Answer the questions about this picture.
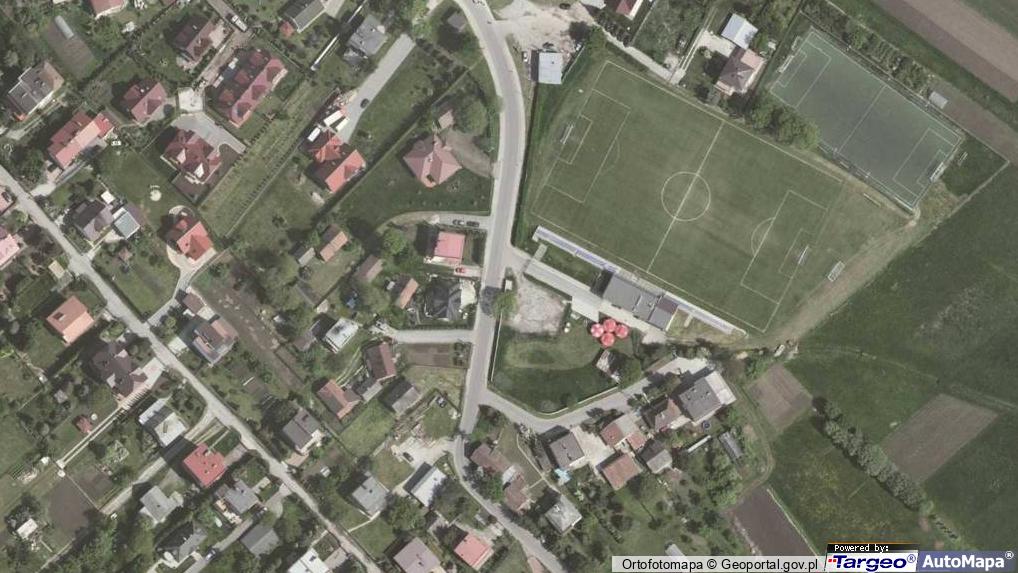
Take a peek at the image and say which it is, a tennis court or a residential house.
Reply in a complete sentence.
I can see a residential house in this picture.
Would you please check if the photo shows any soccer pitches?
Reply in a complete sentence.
Yes, a soccer pitch is visible in the scene.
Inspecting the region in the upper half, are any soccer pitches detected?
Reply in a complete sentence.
Yes, I can see a soccer pitch in the upper half.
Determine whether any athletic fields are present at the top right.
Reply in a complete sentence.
Yes, an athletic field appears at the top right.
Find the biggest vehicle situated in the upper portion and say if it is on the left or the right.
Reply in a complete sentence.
The biggest vehicle situated in the upper portion is on the left side of the image.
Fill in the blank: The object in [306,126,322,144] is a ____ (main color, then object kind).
white vehicle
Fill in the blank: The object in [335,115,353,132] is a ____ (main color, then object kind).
white vehicle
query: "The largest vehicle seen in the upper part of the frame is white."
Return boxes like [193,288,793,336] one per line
[323,107,349,128]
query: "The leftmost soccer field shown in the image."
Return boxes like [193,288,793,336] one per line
[528,58,844,336]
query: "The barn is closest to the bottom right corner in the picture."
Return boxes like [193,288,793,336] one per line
[719,431,745,463]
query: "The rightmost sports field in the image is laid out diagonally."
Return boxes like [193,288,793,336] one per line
[767,24,962,205]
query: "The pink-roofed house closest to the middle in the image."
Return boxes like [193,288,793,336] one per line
[438,233,466,261]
